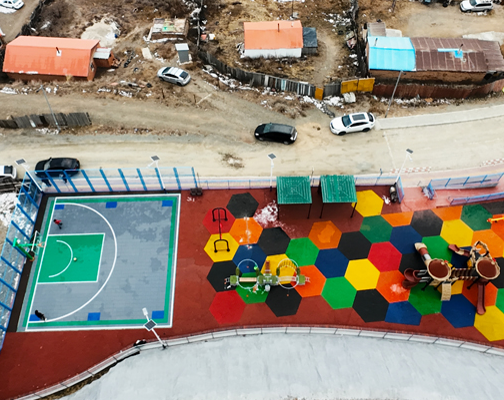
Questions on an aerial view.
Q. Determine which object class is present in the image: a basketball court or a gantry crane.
basketball court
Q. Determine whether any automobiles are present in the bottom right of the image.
No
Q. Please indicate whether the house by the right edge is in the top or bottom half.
top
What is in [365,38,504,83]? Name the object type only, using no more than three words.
house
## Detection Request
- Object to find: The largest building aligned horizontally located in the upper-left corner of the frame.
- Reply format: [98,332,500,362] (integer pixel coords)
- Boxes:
[1,36,101,83]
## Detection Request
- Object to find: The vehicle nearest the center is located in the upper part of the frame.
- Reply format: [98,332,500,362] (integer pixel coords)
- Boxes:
[256,122,297,144]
